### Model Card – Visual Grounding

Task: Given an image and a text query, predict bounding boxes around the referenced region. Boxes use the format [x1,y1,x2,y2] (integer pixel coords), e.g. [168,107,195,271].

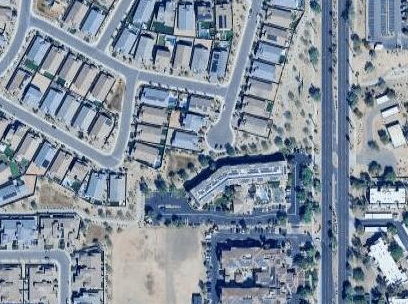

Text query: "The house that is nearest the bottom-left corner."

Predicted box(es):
[0,265,23,302]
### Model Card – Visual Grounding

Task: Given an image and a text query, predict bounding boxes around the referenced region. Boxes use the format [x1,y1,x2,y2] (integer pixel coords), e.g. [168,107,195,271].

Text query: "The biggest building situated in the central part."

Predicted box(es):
[188,159,289,204]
